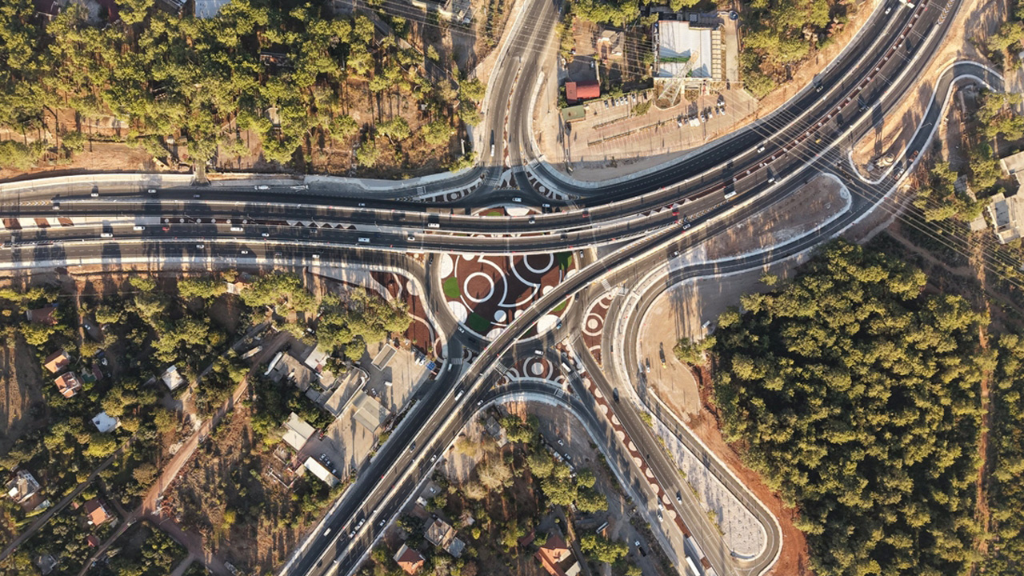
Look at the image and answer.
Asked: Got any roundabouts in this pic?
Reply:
Yes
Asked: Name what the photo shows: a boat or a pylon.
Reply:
pylon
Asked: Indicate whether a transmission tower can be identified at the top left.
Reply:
No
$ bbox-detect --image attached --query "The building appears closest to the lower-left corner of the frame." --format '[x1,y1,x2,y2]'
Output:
[36,552,61,574]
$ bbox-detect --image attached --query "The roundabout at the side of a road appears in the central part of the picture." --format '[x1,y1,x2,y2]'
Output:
[418,186,596,364]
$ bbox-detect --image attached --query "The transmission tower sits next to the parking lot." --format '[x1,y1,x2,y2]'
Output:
[655,57,704,107]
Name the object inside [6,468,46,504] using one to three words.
house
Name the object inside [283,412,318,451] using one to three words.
barn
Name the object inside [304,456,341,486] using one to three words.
shed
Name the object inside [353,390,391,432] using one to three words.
building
